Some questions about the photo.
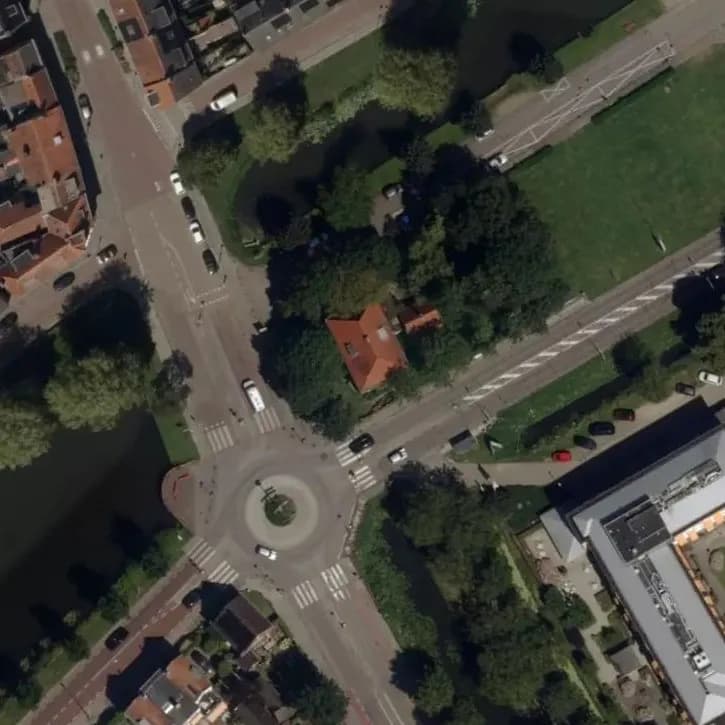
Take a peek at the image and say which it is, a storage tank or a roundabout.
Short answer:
roundabout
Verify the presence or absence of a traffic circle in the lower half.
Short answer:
Yes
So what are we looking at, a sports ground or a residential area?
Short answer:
residential area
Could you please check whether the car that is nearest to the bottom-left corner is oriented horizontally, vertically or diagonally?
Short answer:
diagonally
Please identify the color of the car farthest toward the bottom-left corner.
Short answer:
black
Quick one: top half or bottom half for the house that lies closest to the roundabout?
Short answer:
bottom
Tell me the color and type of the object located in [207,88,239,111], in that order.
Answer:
white vehicle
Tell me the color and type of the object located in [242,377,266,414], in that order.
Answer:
white vehicle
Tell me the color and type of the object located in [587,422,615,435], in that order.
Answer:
black vehicle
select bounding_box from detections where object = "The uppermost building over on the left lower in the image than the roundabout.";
[215,593,272,654]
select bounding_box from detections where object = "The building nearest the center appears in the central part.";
[326,307,407,394]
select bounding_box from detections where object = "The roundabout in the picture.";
[207,437,355,585]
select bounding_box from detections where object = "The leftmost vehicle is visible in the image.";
[0,311,21,331]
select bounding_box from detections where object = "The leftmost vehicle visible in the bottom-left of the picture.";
[103,626,130,651]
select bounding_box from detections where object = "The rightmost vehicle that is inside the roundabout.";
[253,543,278,561]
